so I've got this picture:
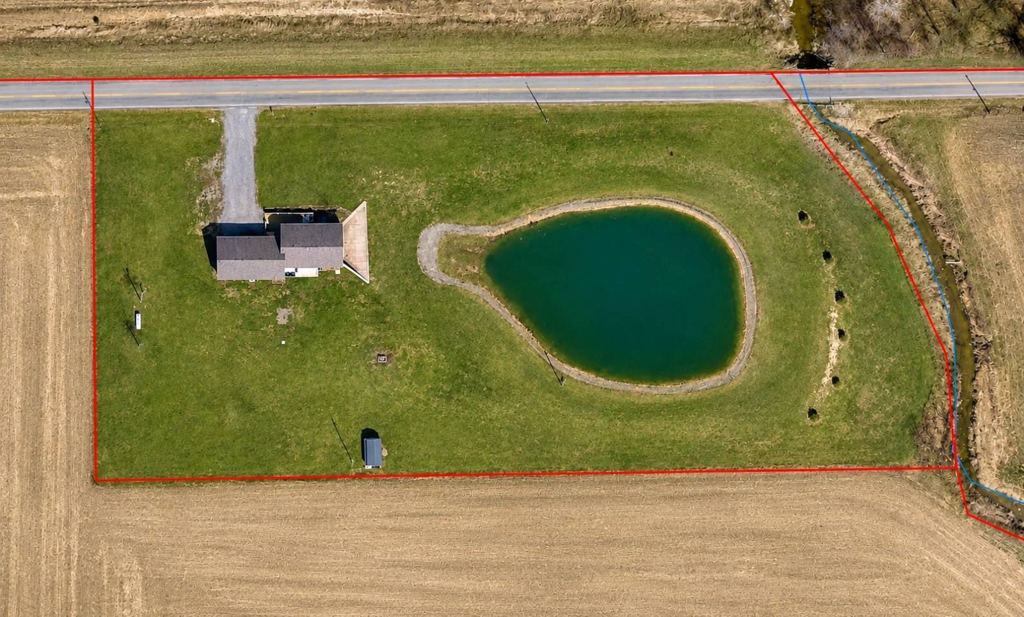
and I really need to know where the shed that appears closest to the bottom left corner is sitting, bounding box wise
[365,439,382,469]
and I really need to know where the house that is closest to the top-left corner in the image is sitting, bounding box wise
[216,213,343,284]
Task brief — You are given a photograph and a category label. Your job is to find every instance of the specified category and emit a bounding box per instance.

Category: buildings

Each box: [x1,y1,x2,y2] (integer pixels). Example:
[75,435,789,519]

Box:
[216,213,343,284]
[365,439,382,469]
